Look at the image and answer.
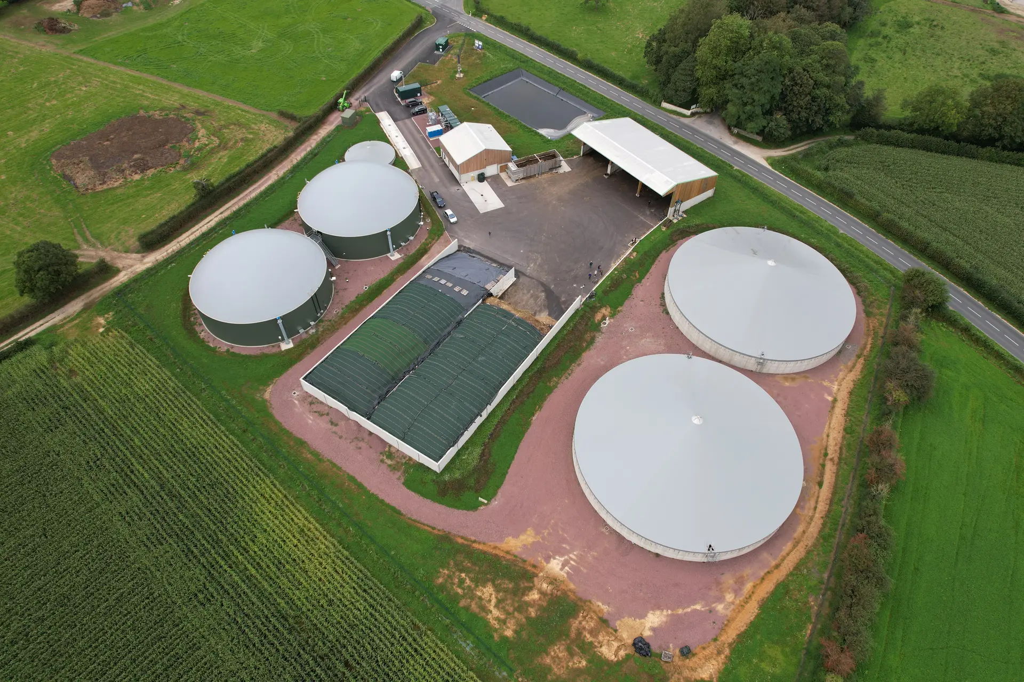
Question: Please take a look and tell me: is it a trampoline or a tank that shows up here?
tank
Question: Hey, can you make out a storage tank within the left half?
Yes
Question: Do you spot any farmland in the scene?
Yes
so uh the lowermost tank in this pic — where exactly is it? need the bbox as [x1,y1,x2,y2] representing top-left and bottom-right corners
[571,350,805,568]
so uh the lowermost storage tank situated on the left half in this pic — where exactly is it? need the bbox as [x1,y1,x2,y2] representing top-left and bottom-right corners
[185,223,337,352]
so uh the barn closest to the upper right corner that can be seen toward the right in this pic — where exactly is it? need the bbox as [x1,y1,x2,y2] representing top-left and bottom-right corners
[570,115,722,217]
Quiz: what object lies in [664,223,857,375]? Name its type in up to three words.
storage tank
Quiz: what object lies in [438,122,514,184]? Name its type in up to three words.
building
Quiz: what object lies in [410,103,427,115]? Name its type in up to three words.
vehicle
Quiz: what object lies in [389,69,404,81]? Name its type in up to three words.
vehicle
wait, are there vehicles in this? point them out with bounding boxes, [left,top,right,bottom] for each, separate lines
[429,189,447,207]
[389,69,404,81]
[406,97,425,107]
[410,103,427,115]
[334,85,354,111]
[444,209,458,224]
